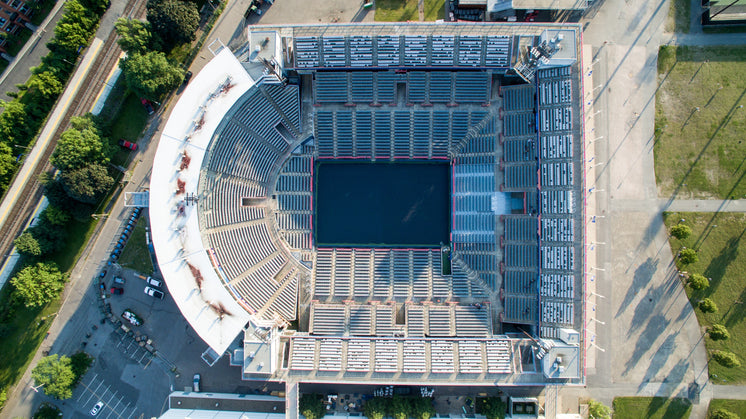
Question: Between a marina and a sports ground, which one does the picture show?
sports ground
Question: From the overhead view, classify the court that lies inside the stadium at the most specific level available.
tennis court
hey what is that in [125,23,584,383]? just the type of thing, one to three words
stadium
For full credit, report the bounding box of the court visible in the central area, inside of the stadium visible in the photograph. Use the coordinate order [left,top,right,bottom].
[313,159,452,249]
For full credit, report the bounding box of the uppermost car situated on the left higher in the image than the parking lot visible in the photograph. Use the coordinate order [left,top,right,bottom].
[182,67,195,82]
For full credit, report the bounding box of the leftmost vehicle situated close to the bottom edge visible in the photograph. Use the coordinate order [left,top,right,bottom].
[90,400,105,415]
